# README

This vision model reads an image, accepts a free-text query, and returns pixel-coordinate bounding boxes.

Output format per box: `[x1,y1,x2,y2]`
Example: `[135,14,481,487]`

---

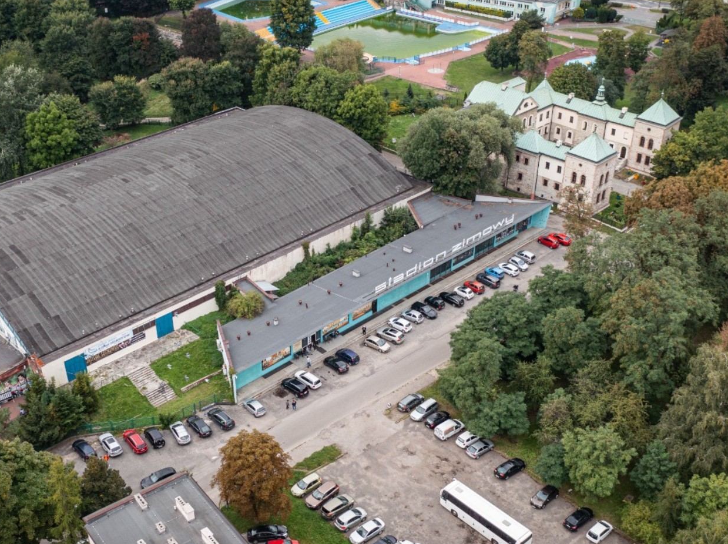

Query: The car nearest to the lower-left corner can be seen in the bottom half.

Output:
[72,437,97,463]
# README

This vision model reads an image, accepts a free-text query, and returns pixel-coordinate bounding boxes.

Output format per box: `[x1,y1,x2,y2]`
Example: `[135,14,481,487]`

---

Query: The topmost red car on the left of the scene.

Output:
[122,429,150,456]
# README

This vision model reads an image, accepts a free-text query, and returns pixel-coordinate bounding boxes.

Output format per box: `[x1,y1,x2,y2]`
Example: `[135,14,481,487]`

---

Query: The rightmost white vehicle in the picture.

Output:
[585,521,613,544]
